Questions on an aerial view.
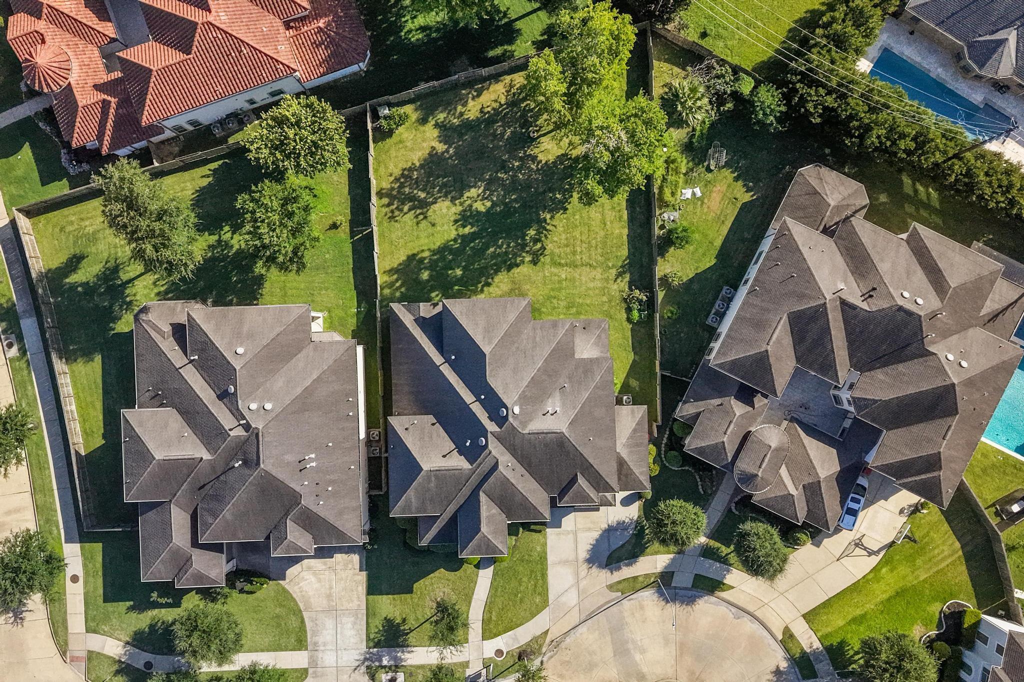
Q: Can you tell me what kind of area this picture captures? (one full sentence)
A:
This image shows a residential area.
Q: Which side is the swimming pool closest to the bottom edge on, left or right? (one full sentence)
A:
It is on the right.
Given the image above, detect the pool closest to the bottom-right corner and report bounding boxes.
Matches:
[984,327,1024,456]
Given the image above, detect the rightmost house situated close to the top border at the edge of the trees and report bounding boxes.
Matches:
[891,0,1024,104]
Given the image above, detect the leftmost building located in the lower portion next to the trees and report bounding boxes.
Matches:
[122,300,376,588]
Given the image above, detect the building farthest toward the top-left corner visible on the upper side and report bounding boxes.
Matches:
[6,0,376,159]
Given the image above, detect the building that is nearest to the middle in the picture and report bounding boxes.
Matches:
[387,297,651,557]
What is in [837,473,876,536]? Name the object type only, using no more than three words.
car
